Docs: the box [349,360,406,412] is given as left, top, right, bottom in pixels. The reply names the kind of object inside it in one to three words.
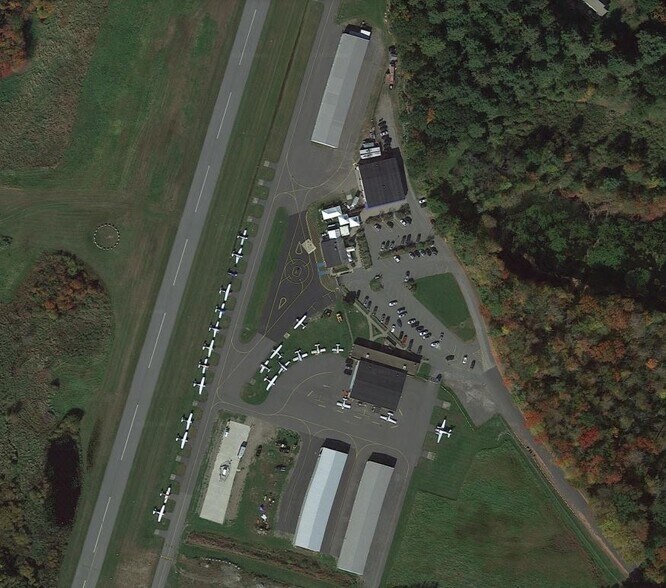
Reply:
hangar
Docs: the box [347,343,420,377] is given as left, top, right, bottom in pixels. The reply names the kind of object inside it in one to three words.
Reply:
building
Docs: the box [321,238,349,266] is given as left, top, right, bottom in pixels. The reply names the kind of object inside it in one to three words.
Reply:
building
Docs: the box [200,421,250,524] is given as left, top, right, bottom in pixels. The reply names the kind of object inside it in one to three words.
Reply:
helipad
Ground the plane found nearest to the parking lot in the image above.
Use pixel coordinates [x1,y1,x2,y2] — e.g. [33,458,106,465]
[435,420,454,443]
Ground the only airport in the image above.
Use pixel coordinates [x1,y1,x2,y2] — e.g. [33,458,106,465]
[71,0,450,588]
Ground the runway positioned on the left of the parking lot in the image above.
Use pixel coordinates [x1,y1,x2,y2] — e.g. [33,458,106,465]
[71,0,271,588]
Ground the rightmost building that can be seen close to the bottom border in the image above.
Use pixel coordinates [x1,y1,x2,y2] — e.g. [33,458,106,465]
[337,461,394,575]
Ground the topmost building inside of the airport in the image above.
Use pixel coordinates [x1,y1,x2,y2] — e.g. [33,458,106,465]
[311,30,369,148]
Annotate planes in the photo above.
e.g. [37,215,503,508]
[293,350,308,361]
[215,303,225,318]
[337,398,351,409]
[220,284,232,301]
[271,345,284,358]
[232,248,243,263]
[332,344,343,354]
[176,431,188,449]
[264,375,277,390]
[194,377,206,394]
[209,322,220,337]
[278,360,290,373]
[153,505,165,522]
[294,315,307,329]
[203,340,215,356]
[380,412,397,423]
[181,413,193,430]
[226,268,236,280]
[198,358,209,373]
[237,230,248,245]
[311,344,326,355]
[159,488,171,503]
[260,360,272,373]
[435,420,454,443]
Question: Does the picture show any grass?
Yes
